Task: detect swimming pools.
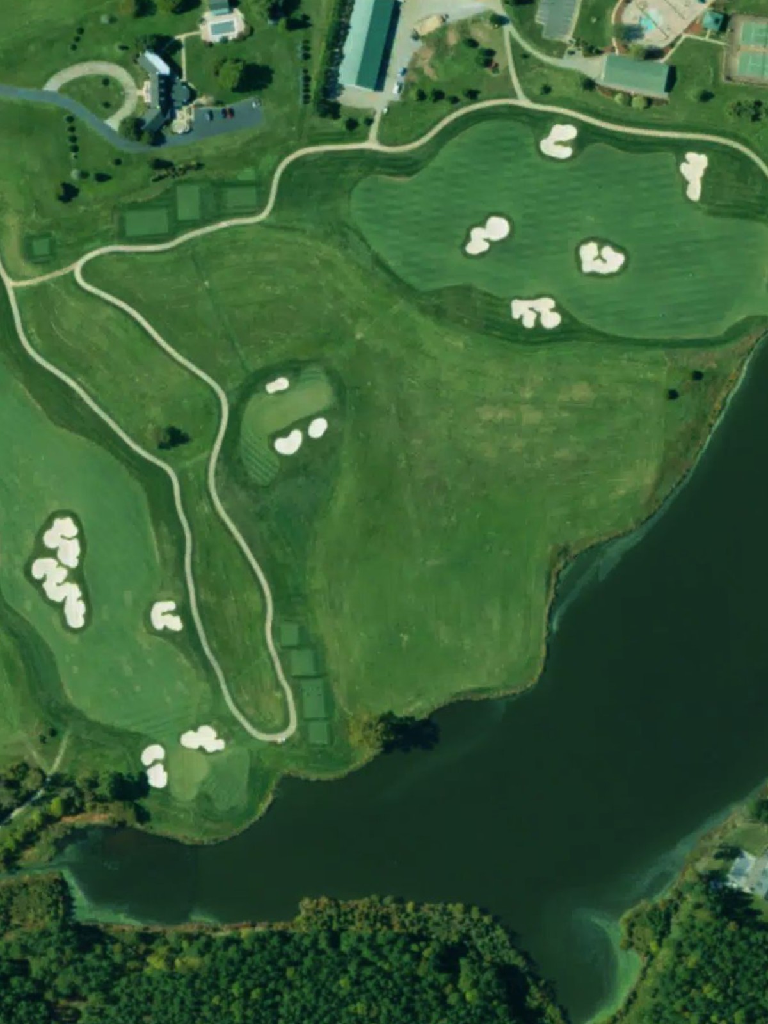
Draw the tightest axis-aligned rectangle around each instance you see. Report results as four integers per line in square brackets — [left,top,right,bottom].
[201,9,244,43]
[623,0,710,47]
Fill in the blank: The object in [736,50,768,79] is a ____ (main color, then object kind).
green tennis court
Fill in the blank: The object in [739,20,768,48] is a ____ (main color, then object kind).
green tennis court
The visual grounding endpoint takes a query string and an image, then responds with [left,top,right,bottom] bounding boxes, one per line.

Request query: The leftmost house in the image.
[137,51,190,132]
